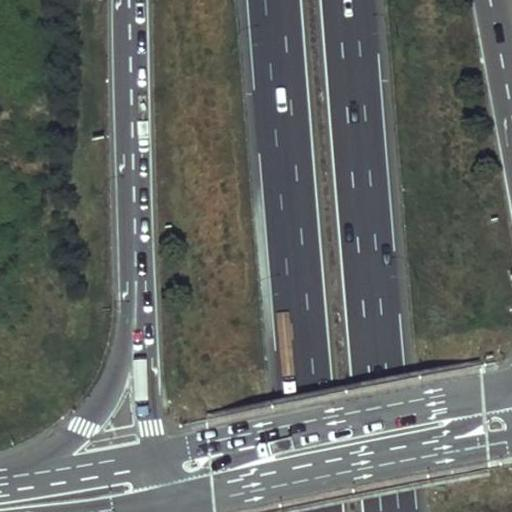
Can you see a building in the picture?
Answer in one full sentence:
No, there's no building here.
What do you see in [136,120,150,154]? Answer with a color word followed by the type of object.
white vehicle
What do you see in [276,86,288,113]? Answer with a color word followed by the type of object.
white vehicle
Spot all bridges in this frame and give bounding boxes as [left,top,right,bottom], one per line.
[204,360,489,512]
